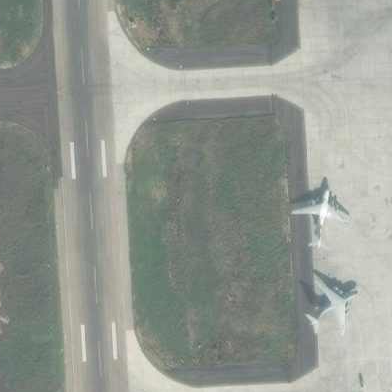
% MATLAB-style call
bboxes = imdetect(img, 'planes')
[292,189,353,247]
[302,279,356,334]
